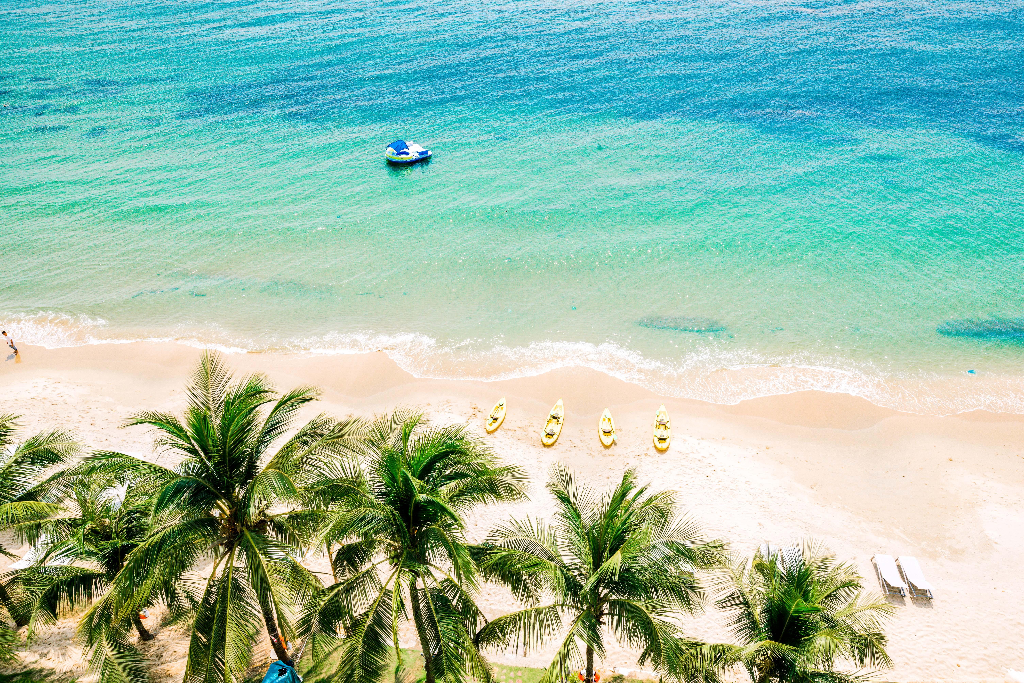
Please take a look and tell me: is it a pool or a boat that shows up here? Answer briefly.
boat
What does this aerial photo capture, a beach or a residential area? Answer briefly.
beach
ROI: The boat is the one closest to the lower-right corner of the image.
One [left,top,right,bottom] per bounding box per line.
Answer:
[652,403,671,452]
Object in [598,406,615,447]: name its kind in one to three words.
boat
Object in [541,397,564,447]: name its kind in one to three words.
boat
